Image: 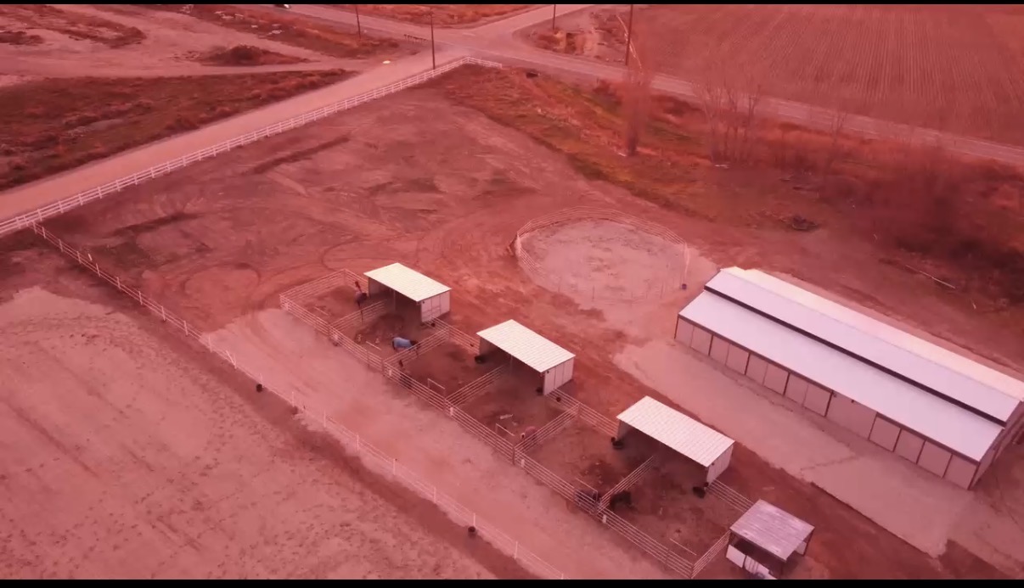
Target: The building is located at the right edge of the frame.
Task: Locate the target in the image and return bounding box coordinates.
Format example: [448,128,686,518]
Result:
[677,266,1024,489]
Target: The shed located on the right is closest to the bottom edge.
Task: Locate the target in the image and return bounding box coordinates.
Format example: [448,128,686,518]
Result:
[727,499,803,574]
